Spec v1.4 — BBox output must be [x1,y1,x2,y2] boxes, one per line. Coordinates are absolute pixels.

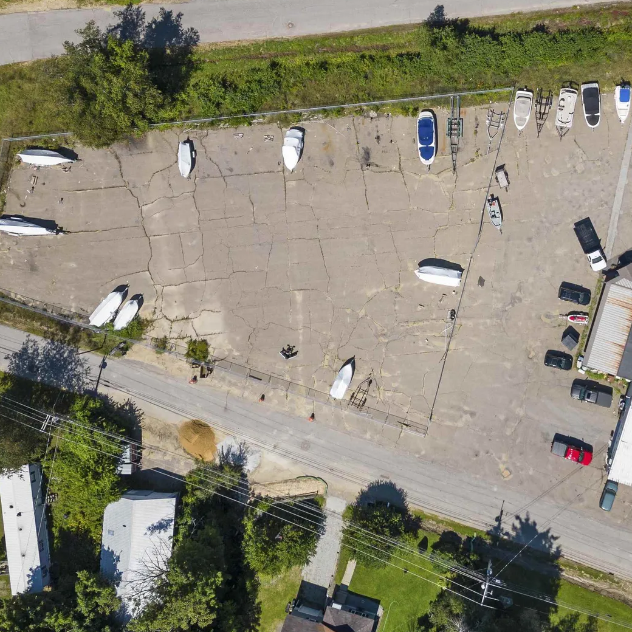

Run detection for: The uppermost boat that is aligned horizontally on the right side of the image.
[416,269,462,290]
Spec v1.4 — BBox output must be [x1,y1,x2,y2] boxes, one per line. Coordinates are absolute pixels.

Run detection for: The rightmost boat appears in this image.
[616,81,631,123]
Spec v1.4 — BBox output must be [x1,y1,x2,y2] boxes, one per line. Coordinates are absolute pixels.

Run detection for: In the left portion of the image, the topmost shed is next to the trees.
[117,440,146,475]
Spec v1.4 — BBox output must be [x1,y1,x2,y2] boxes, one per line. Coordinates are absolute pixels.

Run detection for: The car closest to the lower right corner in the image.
[600,477,618,510]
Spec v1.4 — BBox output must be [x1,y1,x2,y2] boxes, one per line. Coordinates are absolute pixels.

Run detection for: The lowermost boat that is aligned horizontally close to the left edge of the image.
[0,217,59,238]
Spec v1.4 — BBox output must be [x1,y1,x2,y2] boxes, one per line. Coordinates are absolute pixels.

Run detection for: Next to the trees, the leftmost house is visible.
[0,460,56,594]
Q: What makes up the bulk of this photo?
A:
paved ground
